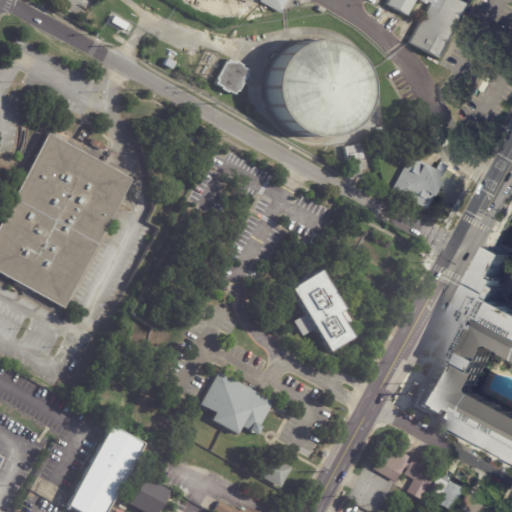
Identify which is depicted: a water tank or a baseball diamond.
water tank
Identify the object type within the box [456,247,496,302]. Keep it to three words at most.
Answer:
building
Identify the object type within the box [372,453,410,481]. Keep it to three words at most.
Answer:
house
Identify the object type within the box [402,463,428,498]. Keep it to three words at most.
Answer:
house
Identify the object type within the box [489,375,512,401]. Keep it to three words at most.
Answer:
swimming pool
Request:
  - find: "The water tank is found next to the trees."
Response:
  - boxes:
[266,38,381,136]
